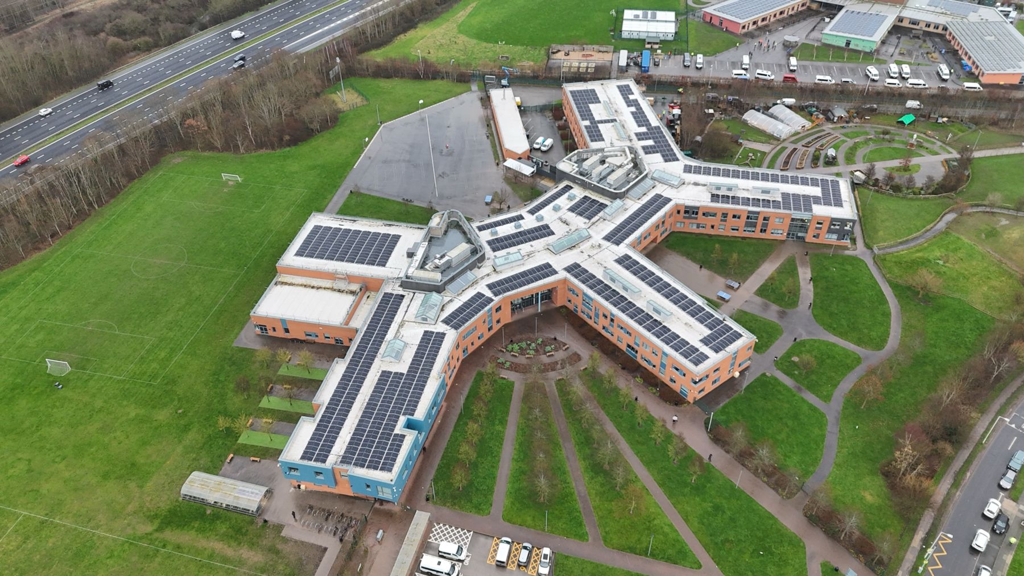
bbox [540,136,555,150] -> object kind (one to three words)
vehicle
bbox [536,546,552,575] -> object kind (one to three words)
car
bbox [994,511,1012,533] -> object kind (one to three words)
car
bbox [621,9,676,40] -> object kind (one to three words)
building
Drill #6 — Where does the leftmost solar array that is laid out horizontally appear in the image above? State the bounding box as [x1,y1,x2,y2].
[294,225,402,268]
